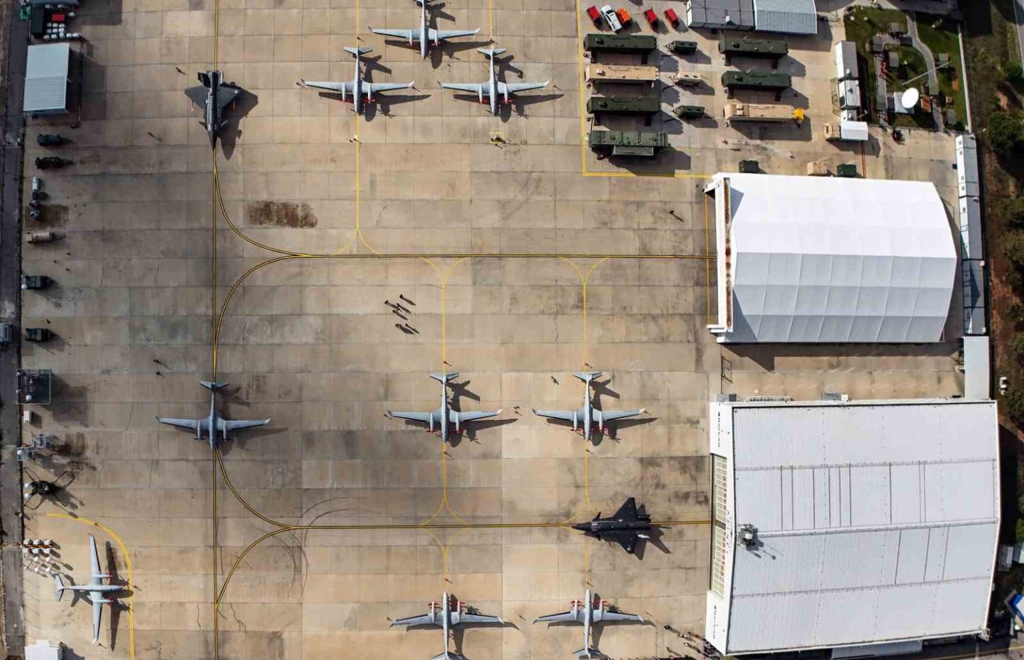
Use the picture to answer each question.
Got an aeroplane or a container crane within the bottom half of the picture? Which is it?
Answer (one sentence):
What appears within the bottom half of the picture is an aeroplane.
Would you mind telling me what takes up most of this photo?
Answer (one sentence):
The largest share of the image is taken up by paved ground.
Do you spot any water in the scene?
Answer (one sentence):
No, there is no water in the image.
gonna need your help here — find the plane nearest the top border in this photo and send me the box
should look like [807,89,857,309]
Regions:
[372,0,476,55]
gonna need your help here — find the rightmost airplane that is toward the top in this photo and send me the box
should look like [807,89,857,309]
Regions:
[439,42,547,113]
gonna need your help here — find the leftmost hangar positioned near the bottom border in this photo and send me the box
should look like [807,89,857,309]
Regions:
[706,398,1003,659]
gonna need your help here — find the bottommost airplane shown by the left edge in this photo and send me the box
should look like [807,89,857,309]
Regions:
[47,537,121,642]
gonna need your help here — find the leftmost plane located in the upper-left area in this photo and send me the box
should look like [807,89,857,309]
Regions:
[186,70,241,148]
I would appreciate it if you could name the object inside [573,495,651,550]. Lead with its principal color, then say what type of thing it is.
black airplane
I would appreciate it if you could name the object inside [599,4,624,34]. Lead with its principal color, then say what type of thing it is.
white truck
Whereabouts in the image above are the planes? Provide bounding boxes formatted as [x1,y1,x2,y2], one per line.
[186,70,241,148]
[153,380,268,448]
[303,42,410,110]
[387,373,501,440]
[573,495,651,550]
[372,0,476,55]
[532,373,644,441]
[388,591,503,660]
[439,42,547,113]
[47,537,121,642]
[534,591,644,660]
